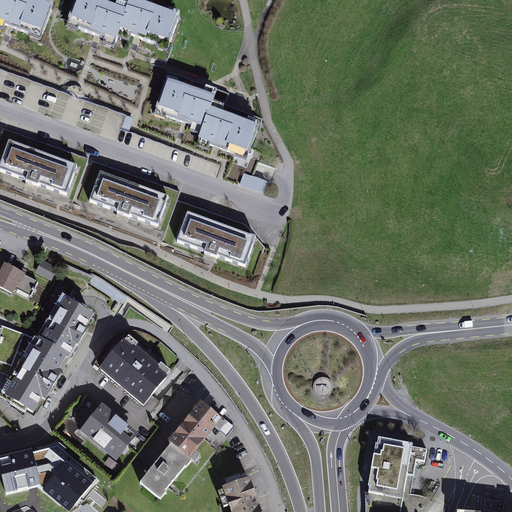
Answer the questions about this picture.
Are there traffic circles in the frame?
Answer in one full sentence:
Yes, there is a traffic circle in the image.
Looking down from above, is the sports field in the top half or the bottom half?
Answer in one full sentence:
The sports field is in the top half of the image.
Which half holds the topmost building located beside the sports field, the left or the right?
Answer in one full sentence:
The topmost building located beside the sports field sits on the left side.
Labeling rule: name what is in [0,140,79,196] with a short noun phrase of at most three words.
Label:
building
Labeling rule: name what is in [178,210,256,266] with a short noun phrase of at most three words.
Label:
building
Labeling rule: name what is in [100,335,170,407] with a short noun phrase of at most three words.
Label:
house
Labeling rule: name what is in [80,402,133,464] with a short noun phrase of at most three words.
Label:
house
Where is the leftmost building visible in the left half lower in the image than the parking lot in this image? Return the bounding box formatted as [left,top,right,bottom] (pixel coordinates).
[0,262,38,296]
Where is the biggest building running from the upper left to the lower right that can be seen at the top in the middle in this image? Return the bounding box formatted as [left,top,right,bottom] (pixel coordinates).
[153,76,262,171]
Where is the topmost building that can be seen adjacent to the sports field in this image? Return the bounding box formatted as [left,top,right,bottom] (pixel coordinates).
[67,0,181,54]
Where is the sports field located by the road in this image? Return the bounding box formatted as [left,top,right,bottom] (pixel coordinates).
[170,0,243,80]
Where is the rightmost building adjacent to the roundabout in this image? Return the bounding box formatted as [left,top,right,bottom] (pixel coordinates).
[368,436,427,501]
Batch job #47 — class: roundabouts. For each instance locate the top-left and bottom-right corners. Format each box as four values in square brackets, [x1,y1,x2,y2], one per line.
[272,310,380,430]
